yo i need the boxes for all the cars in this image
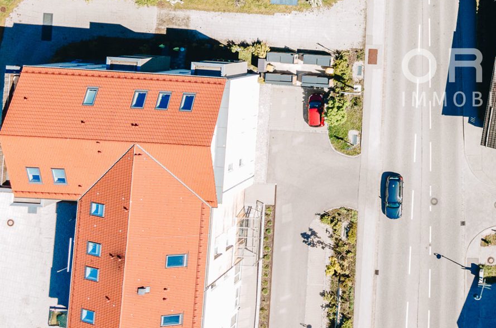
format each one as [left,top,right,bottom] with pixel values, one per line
[382,172,406,218]
[305,93,326,127]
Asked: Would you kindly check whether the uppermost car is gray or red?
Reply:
red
